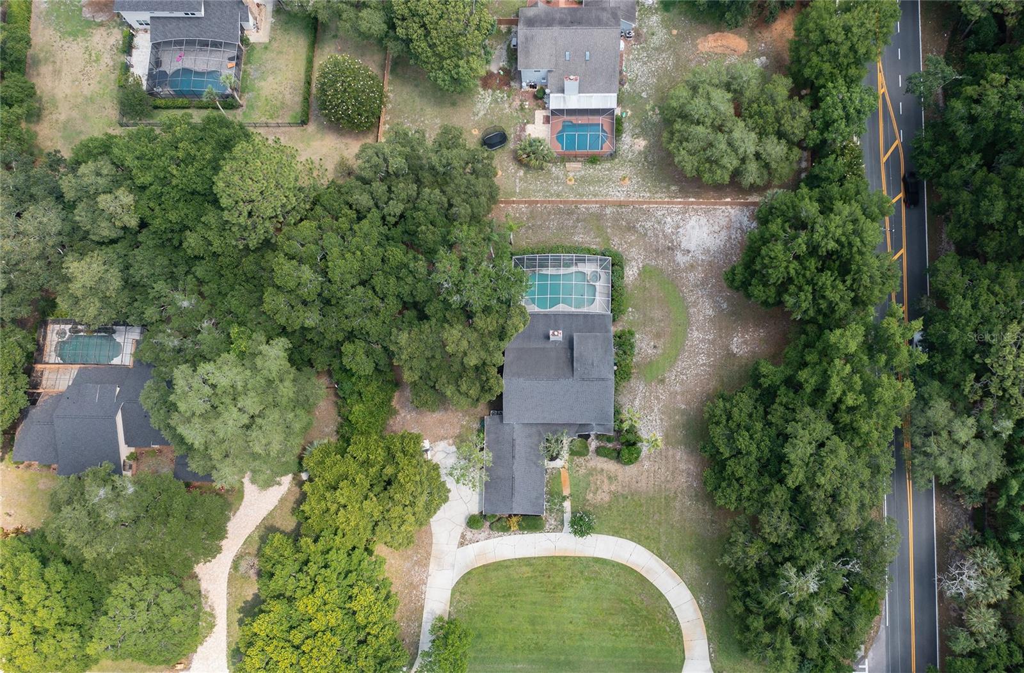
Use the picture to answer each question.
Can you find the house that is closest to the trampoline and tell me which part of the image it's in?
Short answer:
top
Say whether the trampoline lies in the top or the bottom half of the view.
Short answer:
top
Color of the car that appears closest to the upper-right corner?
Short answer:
black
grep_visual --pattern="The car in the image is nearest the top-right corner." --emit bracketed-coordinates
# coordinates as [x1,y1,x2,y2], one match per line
[901,174,921,205]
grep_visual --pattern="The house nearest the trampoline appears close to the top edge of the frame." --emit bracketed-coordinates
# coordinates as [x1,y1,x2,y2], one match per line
[518,0,637,110]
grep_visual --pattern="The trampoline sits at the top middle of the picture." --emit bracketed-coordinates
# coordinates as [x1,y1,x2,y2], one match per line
[482,127,506,148]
